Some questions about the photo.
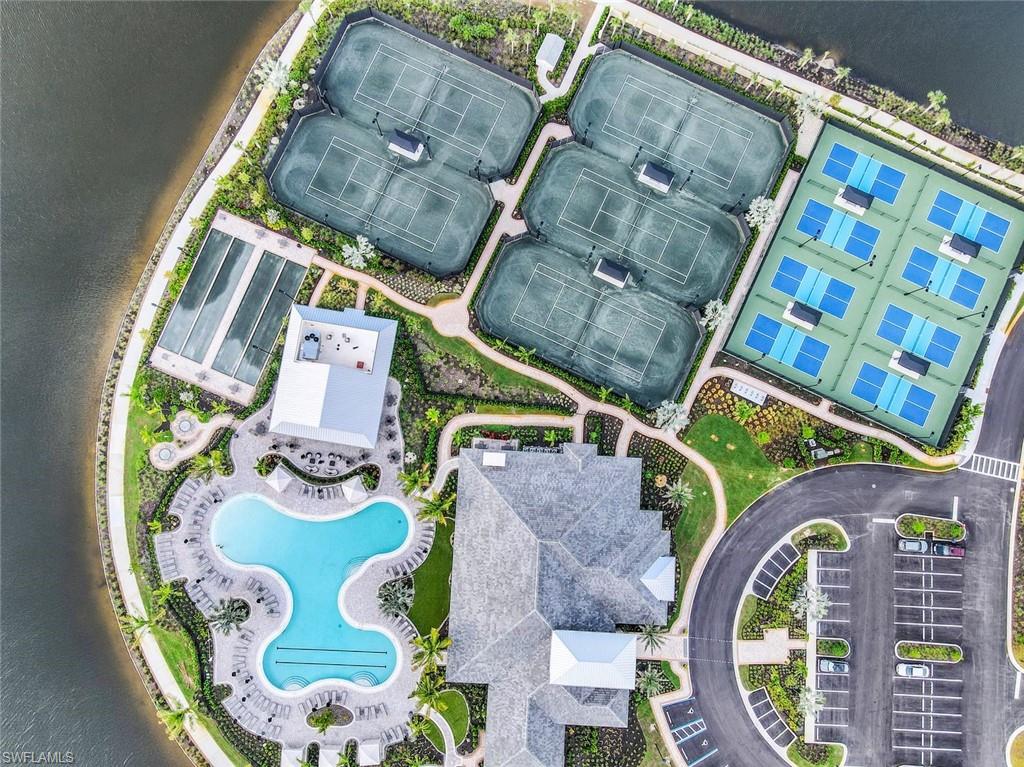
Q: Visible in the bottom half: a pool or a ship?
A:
pool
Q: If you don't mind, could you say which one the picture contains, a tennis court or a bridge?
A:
tennis court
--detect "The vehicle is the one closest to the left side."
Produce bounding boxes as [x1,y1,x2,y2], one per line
[821,660,850,675]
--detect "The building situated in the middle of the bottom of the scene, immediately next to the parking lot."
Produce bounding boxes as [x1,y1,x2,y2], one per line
[445,443,677,767]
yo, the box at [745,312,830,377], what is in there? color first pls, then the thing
blue sports court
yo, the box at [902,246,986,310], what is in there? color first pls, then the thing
blue sports court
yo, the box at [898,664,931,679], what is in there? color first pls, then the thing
white car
